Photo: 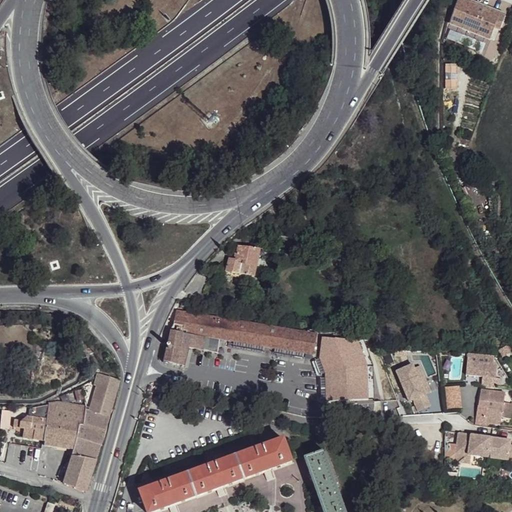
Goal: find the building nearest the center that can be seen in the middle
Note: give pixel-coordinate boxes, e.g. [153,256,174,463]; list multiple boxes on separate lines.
[226,245,262,278]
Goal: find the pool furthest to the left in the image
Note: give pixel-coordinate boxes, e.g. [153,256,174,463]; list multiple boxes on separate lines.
[412,354,436,378]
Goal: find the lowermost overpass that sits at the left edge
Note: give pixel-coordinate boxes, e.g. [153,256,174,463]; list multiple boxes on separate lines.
[13,92,101,177]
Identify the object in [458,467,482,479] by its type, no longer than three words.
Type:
swimming pool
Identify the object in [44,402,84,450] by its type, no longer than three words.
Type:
house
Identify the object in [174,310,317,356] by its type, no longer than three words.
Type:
building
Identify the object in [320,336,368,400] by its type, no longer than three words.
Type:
building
